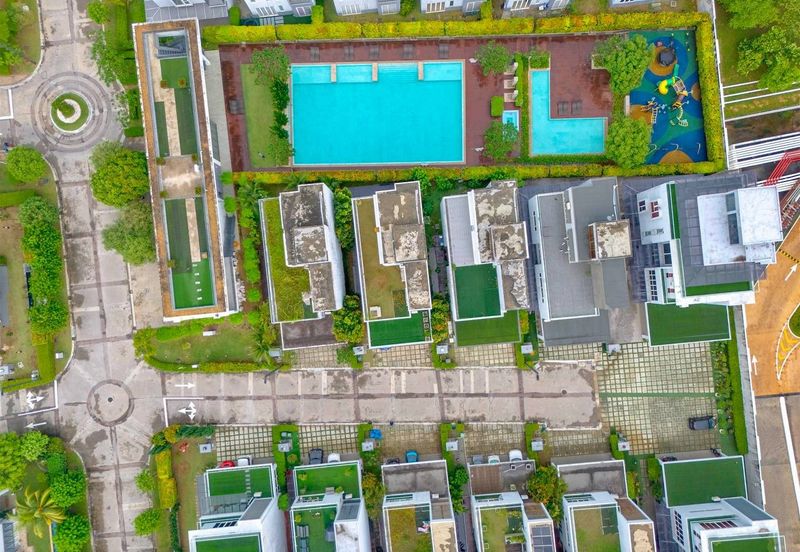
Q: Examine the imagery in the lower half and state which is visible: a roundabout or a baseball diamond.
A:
roundabout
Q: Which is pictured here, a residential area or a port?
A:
residential area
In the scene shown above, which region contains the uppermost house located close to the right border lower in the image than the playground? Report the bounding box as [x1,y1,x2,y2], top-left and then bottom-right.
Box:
[635,170,783,347]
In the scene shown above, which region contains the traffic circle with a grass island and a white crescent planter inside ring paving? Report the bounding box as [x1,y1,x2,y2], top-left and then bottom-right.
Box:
[32,73,109,149]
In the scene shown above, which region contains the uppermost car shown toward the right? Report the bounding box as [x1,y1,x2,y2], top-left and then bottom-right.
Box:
[688,415,716,430]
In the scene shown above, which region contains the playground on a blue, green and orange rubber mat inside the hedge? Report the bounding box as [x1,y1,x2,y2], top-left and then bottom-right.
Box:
[624,30,701,166]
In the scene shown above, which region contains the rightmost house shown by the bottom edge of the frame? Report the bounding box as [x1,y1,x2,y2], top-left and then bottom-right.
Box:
[652,451,785,552]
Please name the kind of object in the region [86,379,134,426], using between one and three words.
roundabout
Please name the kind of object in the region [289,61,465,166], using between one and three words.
swimming pool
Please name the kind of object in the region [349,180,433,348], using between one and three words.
house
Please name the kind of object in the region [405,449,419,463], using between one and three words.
car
